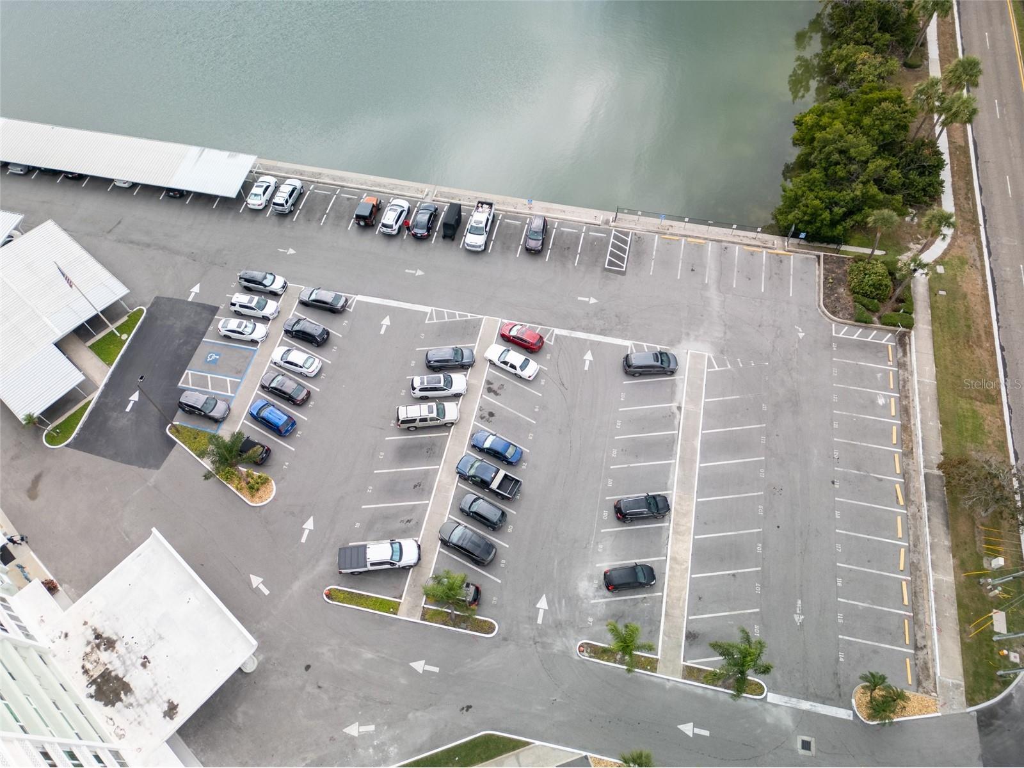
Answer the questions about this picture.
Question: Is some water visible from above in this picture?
Yes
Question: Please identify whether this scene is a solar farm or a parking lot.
parking lot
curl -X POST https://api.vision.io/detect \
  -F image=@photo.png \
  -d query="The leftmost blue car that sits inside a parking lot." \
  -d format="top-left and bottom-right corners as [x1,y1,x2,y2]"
[245,399,301,438]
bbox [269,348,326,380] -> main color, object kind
white car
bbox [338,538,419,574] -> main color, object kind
white truck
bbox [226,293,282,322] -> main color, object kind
white car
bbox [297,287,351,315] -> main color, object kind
gray car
